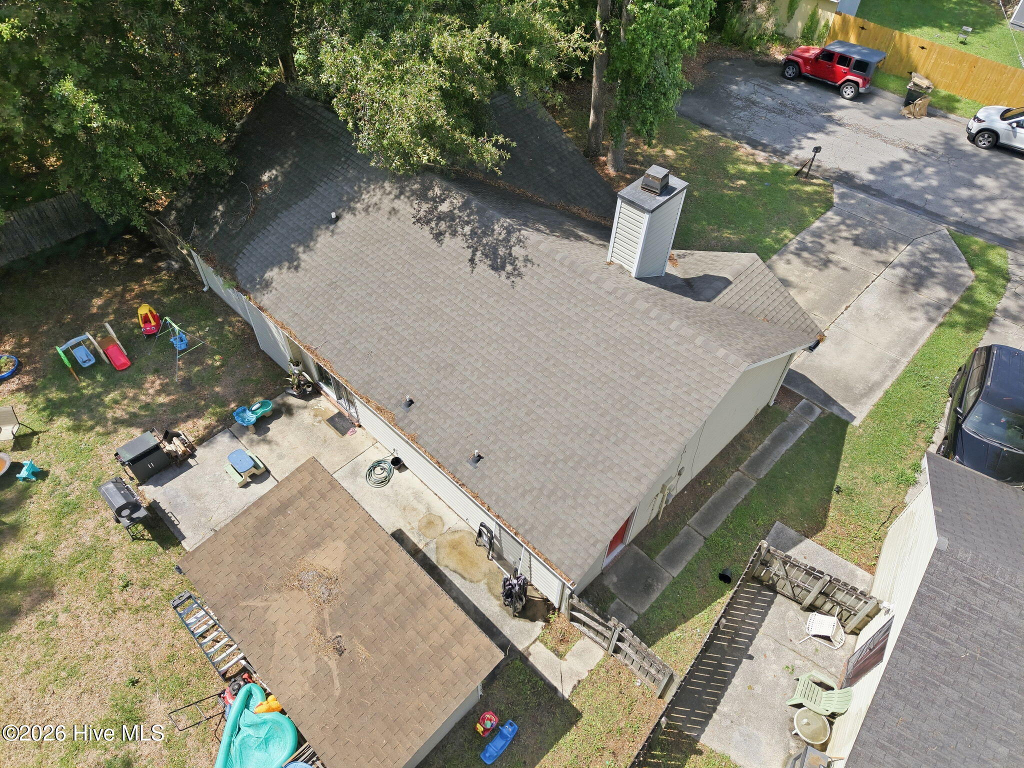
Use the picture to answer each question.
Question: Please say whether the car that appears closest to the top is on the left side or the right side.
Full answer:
It is on the right.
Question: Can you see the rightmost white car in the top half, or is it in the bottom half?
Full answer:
The rightmost white car is in the top half of the image.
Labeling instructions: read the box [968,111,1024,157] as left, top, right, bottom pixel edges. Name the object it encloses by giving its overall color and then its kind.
white car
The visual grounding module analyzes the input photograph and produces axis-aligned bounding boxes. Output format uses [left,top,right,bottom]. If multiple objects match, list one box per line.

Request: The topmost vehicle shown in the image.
[784,35,891,98]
